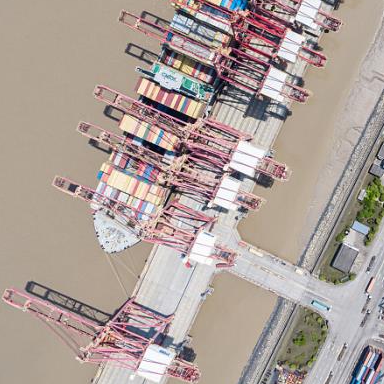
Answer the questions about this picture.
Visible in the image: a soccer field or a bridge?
bridge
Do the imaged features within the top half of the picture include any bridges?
No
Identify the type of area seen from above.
port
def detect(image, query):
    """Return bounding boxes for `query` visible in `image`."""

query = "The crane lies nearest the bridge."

[53,171,245,268]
